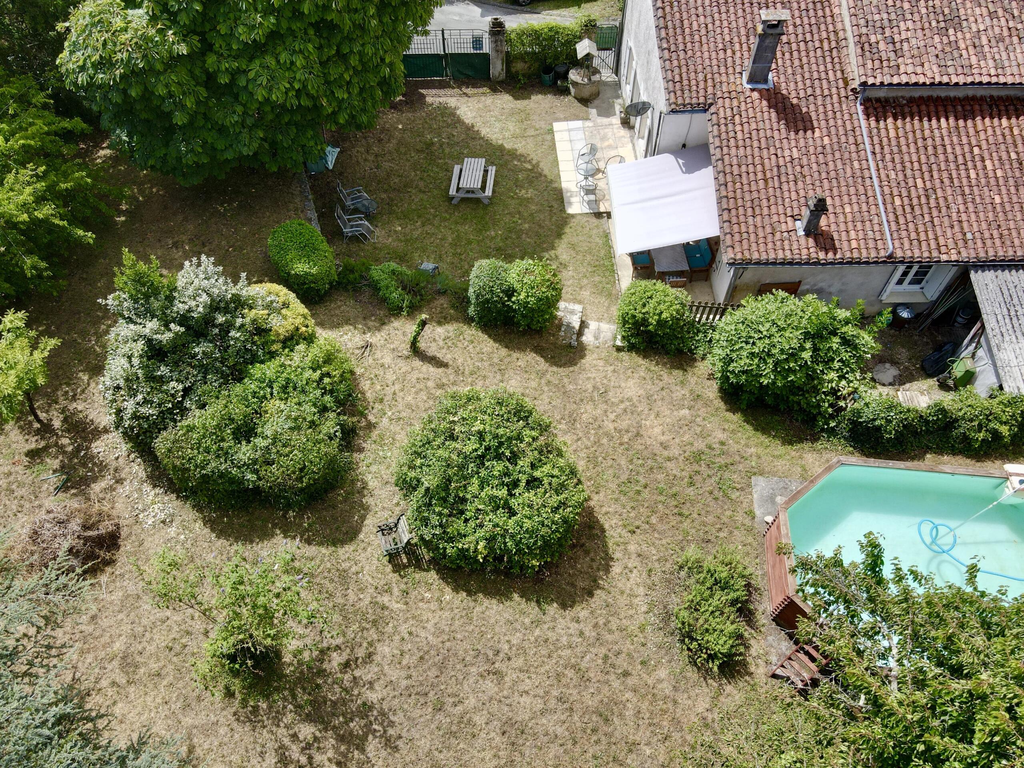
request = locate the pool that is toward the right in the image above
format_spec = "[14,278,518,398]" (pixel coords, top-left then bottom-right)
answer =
[767,454,1024,690]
